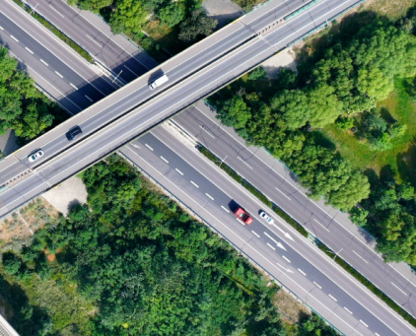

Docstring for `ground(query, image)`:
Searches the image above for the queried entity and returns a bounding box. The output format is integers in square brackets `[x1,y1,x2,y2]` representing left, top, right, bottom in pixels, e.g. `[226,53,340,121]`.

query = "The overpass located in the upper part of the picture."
[3,9,264,209]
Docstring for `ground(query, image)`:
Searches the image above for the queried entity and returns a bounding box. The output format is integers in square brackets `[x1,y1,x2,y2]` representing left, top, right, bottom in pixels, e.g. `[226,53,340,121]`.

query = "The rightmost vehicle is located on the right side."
[258,210,274,224]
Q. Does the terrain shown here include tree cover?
Yes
